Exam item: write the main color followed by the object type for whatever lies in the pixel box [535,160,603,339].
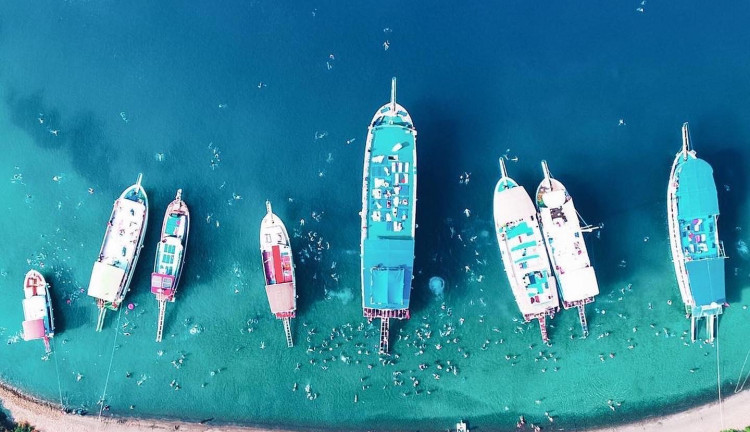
white boat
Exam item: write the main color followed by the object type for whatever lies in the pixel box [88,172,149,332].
white boat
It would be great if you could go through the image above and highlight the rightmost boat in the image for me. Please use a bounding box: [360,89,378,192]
[662,122,731,343]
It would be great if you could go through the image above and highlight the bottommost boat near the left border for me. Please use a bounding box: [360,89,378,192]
[22,266,61,353]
